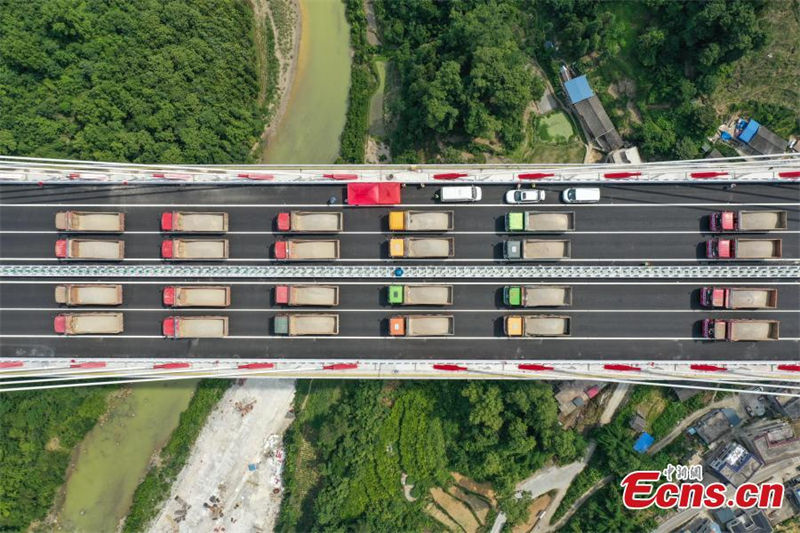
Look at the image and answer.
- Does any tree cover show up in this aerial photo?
Yes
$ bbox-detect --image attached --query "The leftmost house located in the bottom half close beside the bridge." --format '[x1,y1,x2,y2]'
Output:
[553,384,598,417]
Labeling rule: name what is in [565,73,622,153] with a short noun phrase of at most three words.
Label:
shed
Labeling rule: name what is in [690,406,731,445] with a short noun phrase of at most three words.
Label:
house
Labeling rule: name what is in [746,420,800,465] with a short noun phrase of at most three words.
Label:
house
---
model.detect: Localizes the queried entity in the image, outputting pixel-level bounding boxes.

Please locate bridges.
[0,156,800,396]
